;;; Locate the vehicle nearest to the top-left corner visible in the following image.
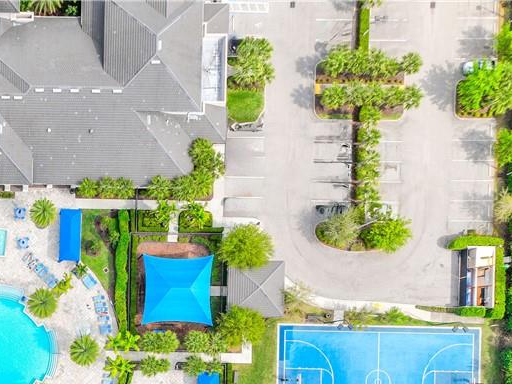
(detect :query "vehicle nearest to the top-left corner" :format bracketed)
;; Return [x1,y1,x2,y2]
[233,117,264,133]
